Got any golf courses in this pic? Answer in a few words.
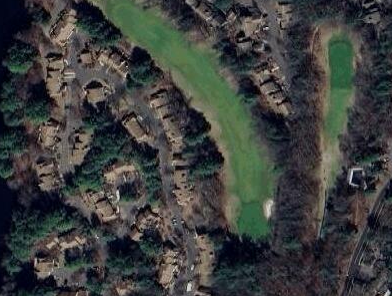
Yes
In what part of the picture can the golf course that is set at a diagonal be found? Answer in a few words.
center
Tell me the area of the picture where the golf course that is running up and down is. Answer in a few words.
right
